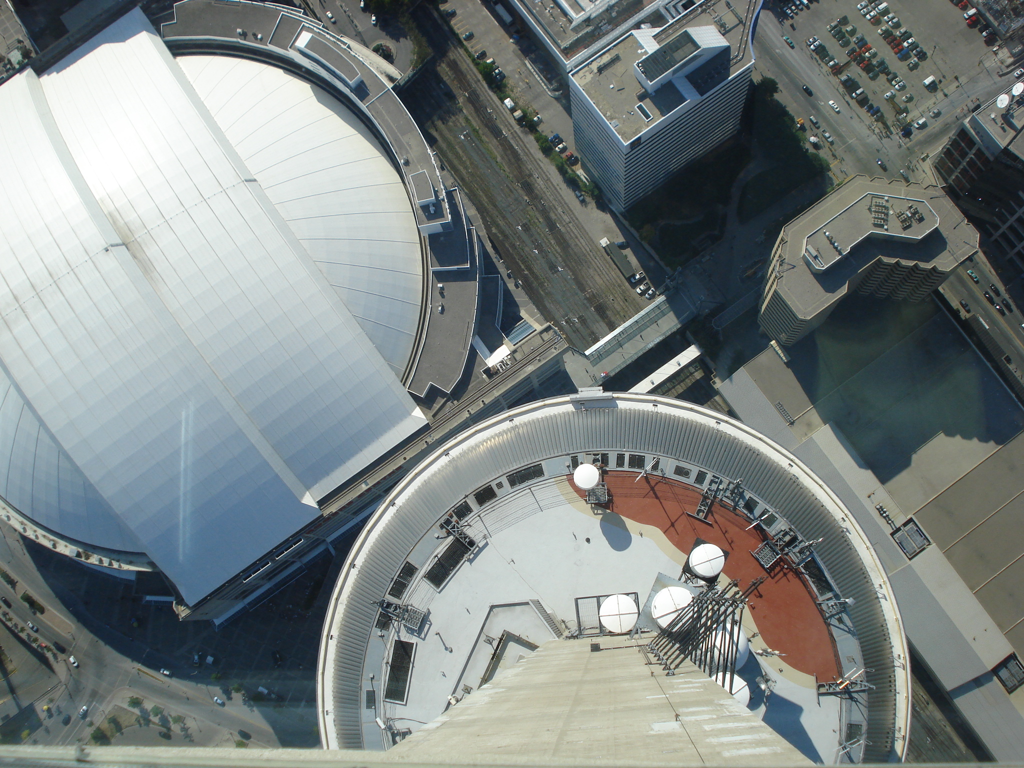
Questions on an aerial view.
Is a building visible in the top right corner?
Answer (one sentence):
Yes, a building is visible in the top right corner.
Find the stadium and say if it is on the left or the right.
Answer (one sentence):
The stadium is on the left side of the image.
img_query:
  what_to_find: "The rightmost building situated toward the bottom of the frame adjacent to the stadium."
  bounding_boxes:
[715,295,1024,764]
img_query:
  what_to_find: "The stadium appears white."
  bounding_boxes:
[0,0,573,635]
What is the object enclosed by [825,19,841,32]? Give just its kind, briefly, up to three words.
vehicle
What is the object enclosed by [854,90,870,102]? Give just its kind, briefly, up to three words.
vehicle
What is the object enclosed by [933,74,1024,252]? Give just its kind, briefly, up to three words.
building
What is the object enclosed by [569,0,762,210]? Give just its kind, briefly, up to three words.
building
